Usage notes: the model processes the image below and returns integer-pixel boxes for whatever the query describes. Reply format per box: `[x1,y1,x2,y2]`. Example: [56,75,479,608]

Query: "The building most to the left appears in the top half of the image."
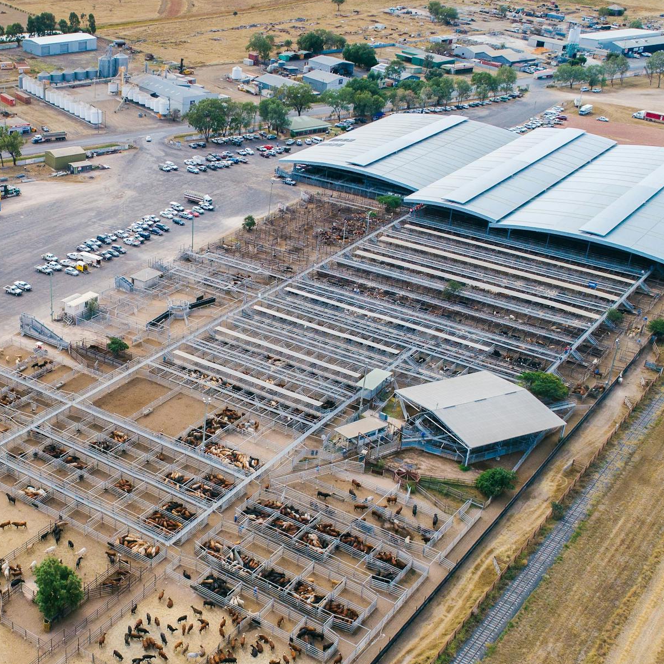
[0,113,31,133]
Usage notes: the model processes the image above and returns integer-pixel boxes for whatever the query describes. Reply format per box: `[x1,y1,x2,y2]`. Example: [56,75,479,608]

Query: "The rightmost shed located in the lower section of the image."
[378,370,566,470]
